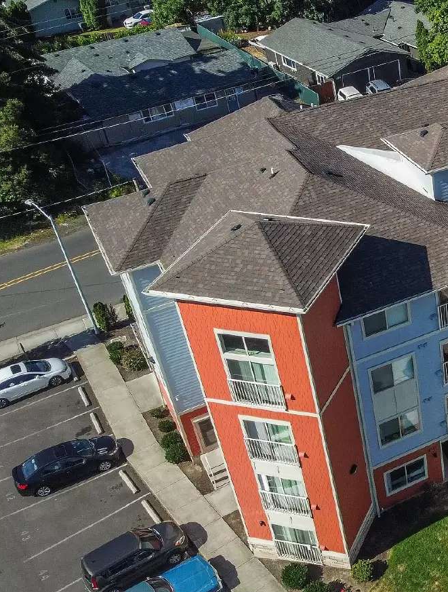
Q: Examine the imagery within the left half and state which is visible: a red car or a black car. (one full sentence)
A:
Visible within the left half is a black car.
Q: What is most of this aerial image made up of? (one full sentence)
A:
Most of the picture is covered by buildings.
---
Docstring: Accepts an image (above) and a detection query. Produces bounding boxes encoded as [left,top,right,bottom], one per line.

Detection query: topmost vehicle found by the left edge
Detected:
[0,361,67,408]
